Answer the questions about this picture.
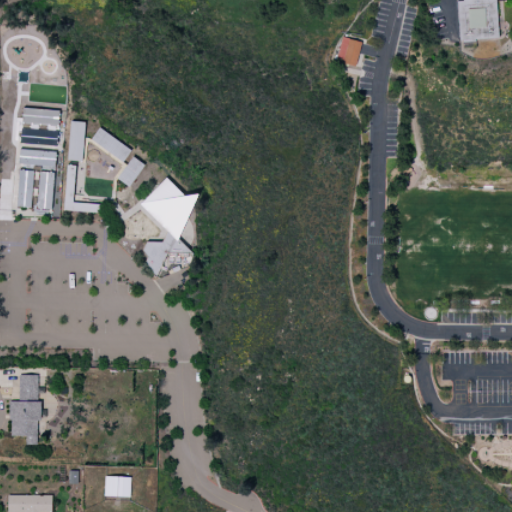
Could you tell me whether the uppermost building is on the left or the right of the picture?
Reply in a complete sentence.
The uppermost building appears in the right half of the scene.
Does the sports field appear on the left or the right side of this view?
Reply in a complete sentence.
The sports field sits on the right side.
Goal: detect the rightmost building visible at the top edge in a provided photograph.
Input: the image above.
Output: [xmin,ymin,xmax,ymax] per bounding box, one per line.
[459,0,500,42]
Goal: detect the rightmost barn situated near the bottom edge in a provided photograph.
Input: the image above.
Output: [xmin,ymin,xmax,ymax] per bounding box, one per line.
[104,477,132,499]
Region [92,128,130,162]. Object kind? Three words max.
building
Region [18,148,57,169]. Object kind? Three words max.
building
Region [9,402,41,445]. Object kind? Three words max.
house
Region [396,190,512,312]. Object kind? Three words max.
sports field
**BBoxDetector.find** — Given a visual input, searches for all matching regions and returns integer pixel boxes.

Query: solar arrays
[21,135,58,144]
[22,127,58,136]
